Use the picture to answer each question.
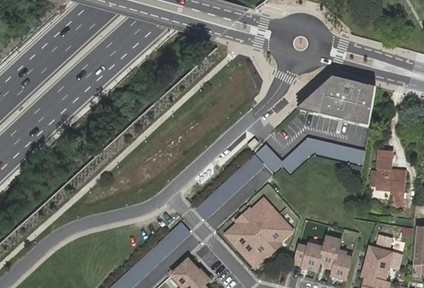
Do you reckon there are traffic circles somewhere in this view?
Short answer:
Yes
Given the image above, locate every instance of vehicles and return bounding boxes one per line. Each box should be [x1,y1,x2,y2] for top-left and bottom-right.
[306,114,312,126]
[262,111,272,120]
[341,123,347,134]
[60,26,70,36]
[292,266,298,278]
[214,264,226,274]
[156,217,165,227]
[219,270,229,279]
[162,210,172,222]
[29,126,40,136]
[219,148,229,158]
[226,280,237,288]
[222,276,233,285]
[76,70,87,80]
[18,67,28,78]
[148,224,154,234]
[20,77,30,86]
[280,130,288,140]
[320,58,331,64]
[210,260,222,270]
[129,236,136,246]
[140,229,147,240]
[94,66,104,76]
